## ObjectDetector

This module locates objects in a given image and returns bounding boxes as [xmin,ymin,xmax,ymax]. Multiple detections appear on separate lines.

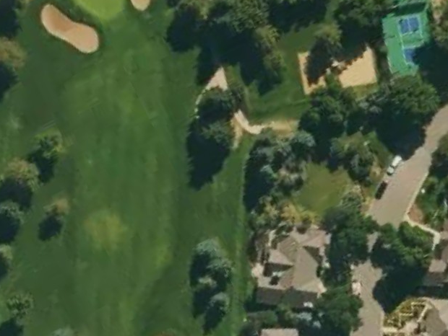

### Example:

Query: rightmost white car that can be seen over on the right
[388,157,401,173]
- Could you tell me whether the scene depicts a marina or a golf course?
golf course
